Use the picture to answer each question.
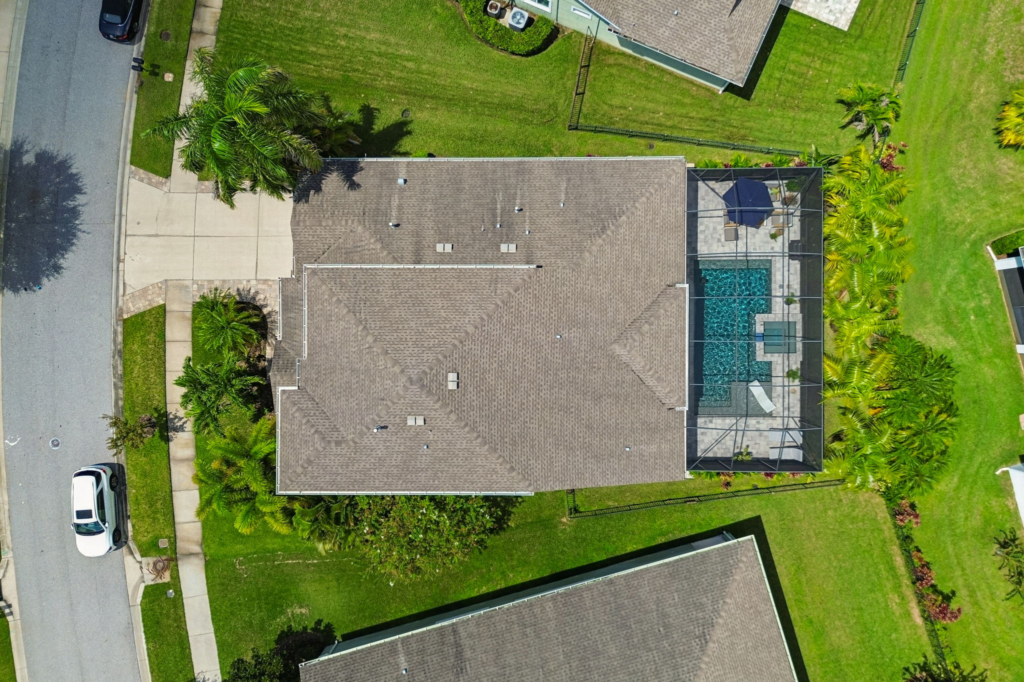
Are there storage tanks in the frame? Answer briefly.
No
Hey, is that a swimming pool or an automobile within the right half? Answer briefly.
swimming pool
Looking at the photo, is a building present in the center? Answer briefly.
Yes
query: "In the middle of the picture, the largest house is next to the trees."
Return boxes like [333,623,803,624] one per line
[268,155,691,495]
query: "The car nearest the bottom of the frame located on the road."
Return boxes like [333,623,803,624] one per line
[70,462,124,557]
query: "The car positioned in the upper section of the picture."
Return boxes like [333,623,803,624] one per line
[98,0,146,43]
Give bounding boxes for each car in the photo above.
[70,462,124,557]
[98,0,146,43]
